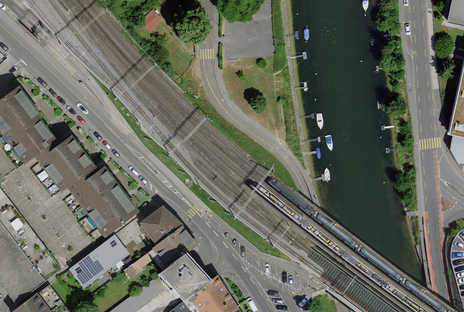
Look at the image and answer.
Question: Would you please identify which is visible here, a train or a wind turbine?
train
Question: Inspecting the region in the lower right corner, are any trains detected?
Yes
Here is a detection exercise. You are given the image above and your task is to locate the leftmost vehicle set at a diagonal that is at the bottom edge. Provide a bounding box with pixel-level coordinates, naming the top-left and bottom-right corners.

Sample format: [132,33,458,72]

[246,296,258,312]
